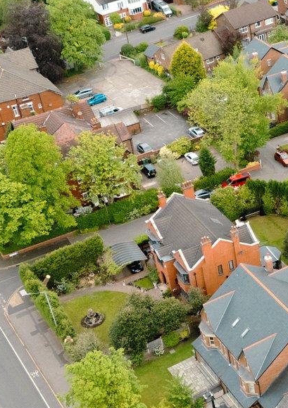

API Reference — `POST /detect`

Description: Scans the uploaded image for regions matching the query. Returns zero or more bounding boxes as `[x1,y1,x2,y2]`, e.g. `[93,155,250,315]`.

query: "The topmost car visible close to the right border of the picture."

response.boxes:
[274,150,288,167]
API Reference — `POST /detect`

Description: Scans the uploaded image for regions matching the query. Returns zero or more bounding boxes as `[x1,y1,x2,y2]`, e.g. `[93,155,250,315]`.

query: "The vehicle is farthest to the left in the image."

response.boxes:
[71,86,96,100]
